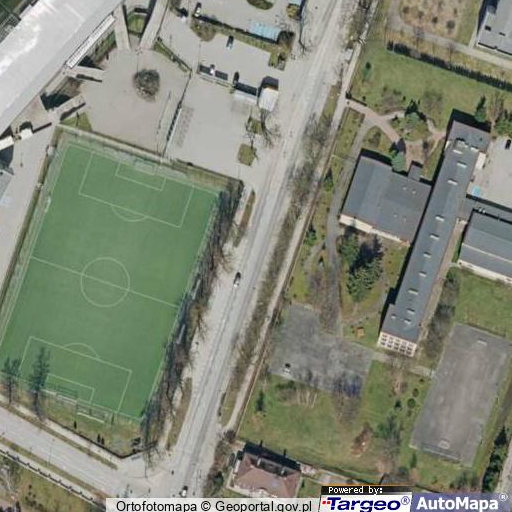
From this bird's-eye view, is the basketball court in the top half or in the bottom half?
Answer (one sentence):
The bottom half of the photo is where the basketball court is.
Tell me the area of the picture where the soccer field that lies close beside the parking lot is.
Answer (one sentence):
You can find the soccer field that lies close beside the parking lot in the left area of the picture.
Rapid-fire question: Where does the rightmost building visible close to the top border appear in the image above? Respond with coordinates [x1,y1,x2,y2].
[475,0,512,61]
